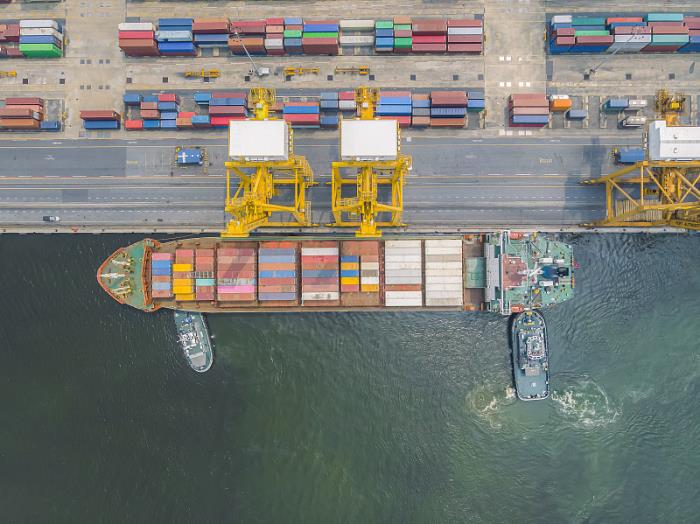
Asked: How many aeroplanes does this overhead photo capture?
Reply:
0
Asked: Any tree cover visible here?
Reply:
No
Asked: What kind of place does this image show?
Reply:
port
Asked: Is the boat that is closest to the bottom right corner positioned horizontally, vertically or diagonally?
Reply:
vertically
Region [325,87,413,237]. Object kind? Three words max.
container crane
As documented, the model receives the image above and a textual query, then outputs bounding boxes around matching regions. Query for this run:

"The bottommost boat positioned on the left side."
[172,308,214,374]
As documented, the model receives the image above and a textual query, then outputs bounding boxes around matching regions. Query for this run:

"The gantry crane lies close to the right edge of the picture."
[582,85,700,226]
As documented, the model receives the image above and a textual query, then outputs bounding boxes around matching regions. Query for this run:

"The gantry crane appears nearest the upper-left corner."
[218,88,318,237]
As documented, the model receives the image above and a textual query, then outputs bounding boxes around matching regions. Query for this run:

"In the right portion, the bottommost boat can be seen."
[511,311,554,402]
